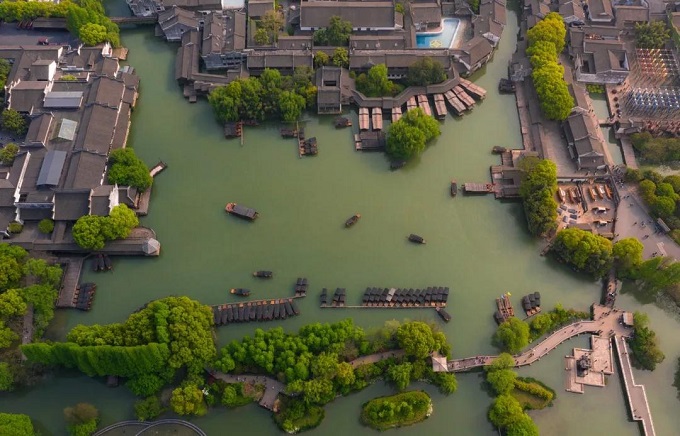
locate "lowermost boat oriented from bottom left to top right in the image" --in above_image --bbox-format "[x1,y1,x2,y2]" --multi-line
[344,214,361,233]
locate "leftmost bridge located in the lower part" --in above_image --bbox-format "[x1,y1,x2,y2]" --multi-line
[447,319,602,371]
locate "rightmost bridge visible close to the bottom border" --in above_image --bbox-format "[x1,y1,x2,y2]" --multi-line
[612,336,657,436]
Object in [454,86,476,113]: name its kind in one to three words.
boat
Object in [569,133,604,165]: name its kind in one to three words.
house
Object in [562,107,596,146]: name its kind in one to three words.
house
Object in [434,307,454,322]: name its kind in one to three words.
boat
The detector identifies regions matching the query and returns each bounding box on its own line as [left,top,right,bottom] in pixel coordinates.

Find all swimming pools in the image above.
[416,19,460,49]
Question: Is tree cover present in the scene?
Yes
